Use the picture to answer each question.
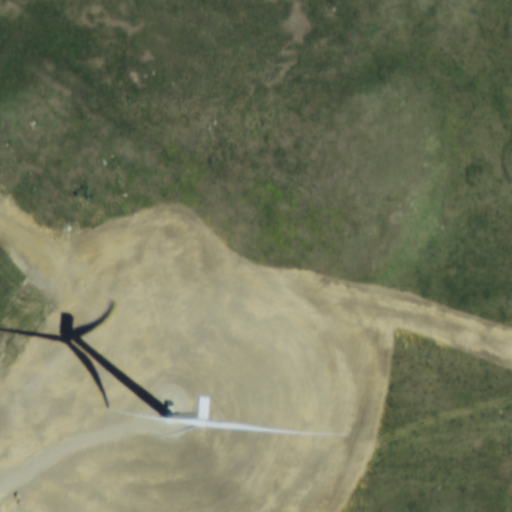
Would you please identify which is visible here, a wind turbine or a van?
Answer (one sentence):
This aerial view contains a wind turbine.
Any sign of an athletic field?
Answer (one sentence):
No, there isn't any athletic field down there.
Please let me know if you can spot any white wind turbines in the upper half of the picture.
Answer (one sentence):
No, no white wind turbine appears in the upper half of the picture.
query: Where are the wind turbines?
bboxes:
[104,396,341,438]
